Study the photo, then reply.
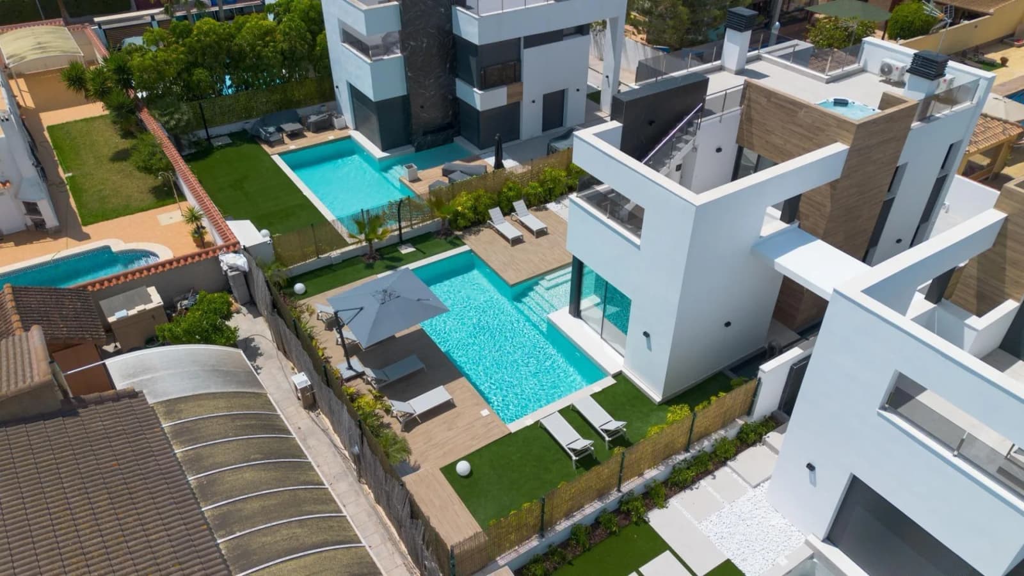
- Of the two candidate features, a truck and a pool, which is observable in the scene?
pool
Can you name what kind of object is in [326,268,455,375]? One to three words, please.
umbrella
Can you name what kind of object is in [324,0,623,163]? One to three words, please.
house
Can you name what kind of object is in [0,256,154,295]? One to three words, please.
swimming pool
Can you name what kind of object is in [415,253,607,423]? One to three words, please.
swimming pool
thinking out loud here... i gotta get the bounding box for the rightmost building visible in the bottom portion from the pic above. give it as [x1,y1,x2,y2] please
[759,173,1024,576]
